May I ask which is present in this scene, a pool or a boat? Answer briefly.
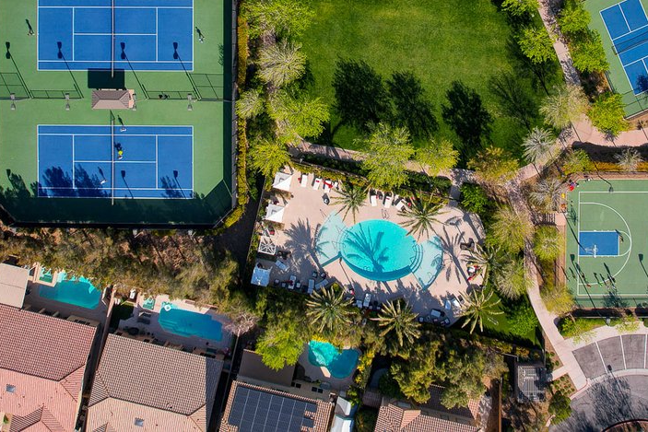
pool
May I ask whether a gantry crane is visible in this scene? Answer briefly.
No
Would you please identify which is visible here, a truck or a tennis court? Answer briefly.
tennis court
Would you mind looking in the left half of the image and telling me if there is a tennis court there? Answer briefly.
Yes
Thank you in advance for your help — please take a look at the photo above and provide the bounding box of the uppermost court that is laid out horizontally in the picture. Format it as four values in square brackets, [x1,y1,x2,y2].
[0,0,235,98]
